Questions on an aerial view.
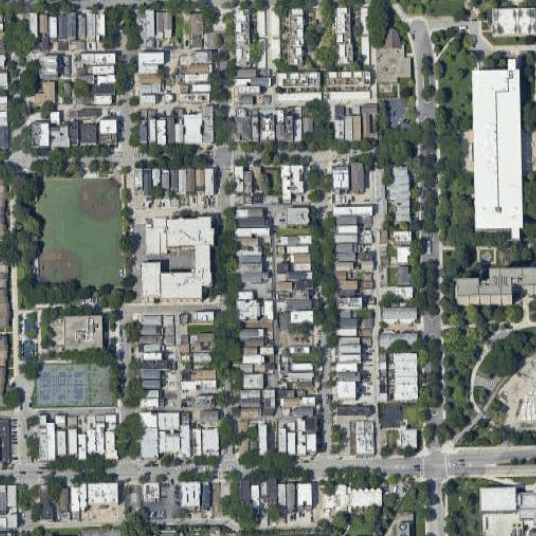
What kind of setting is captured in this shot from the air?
residential area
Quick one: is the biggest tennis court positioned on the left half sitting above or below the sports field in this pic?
below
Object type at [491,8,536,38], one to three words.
building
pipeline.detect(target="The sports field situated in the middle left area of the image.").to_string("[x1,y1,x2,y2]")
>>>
[39,178,121,287]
